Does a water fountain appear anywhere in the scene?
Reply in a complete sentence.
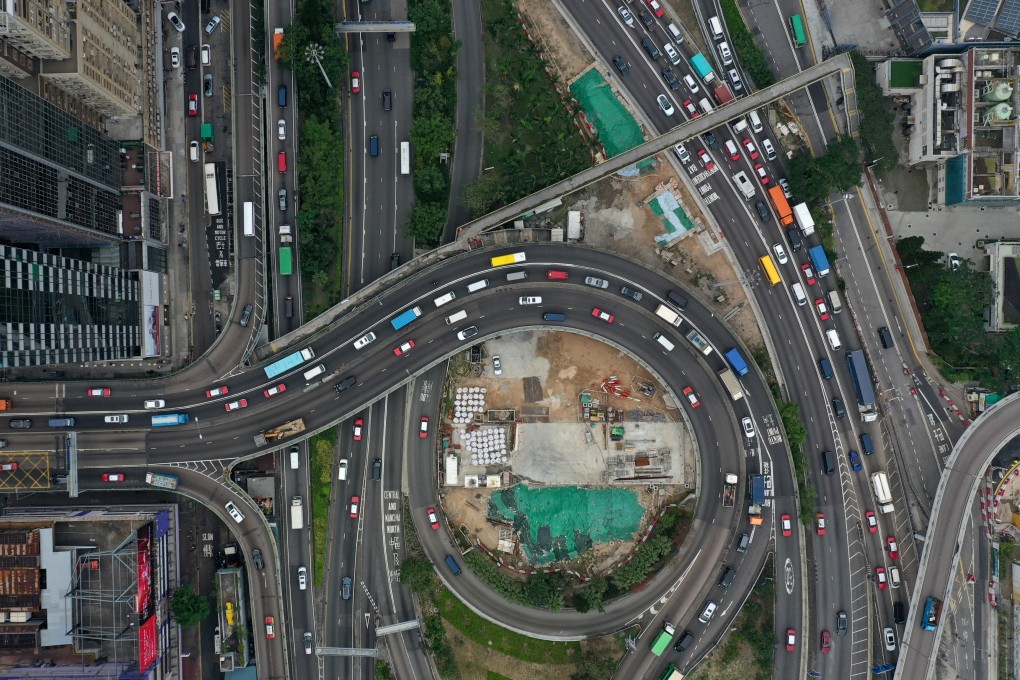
No, there is no water fountain in the image.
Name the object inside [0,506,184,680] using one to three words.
building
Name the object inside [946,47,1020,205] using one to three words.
building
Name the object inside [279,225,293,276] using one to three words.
vehicle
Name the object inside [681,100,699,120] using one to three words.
car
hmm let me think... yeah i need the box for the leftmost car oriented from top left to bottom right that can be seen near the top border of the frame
[167,11,186,33]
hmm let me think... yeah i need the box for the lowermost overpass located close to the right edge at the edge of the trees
[890,391,1020,680]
